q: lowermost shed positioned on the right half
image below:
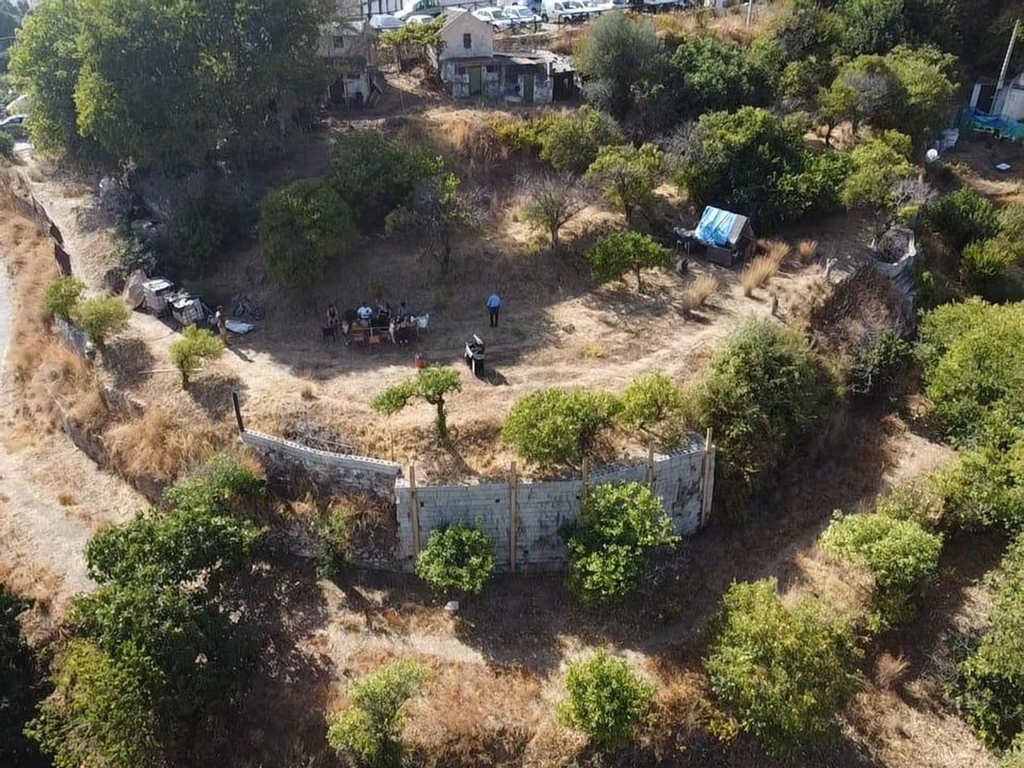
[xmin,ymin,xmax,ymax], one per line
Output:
[693,212,762,273]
